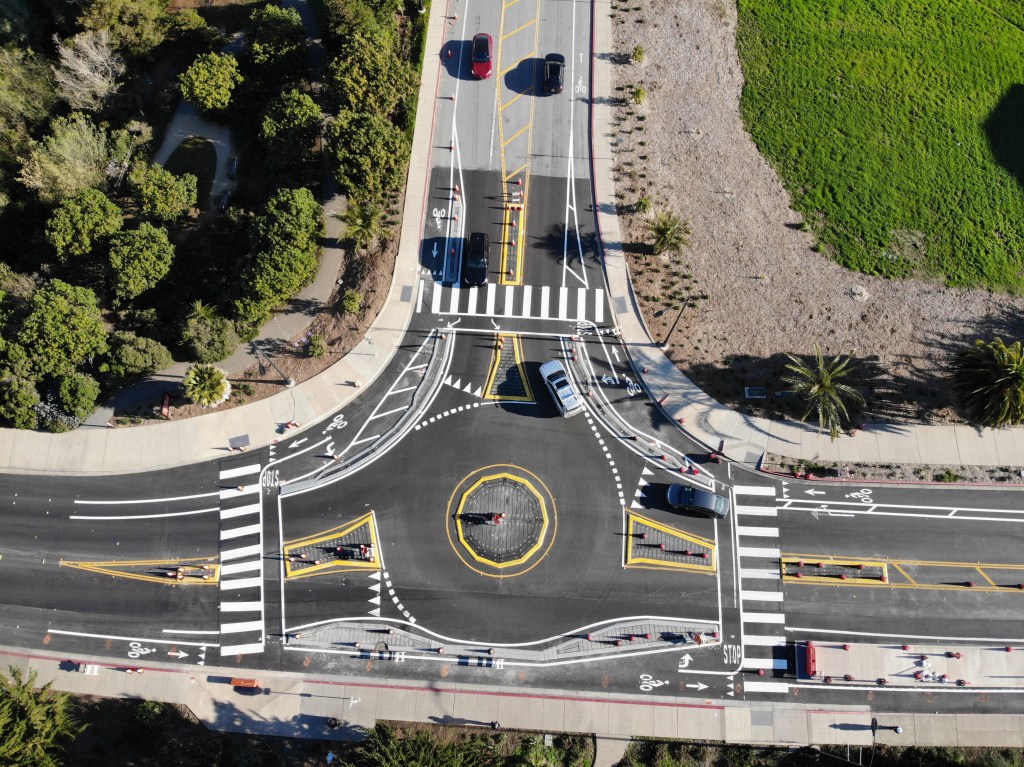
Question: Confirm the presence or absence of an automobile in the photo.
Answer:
Yes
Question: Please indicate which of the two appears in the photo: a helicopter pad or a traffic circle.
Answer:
traffic circle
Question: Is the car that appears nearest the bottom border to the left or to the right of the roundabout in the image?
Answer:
to the right of it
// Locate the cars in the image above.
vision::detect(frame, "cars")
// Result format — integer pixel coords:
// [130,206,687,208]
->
[469,35,493,80]
[539,360,584,420]
[664,483,731,520]
[542,55,566,97]
[464,233,492,287]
